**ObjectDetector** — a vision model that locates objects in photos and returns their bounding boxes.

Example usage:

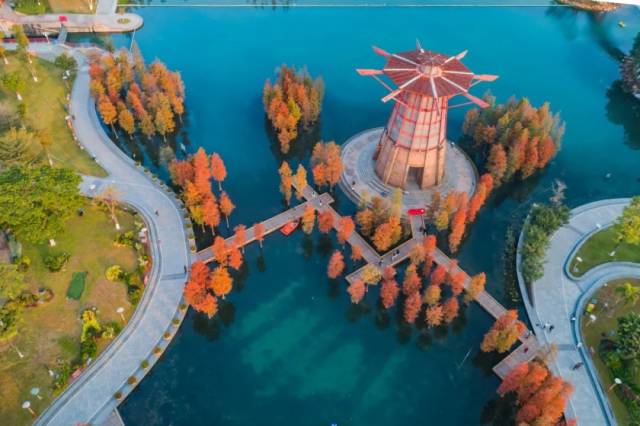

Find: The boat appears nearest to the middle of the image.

[279,223,299,235]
